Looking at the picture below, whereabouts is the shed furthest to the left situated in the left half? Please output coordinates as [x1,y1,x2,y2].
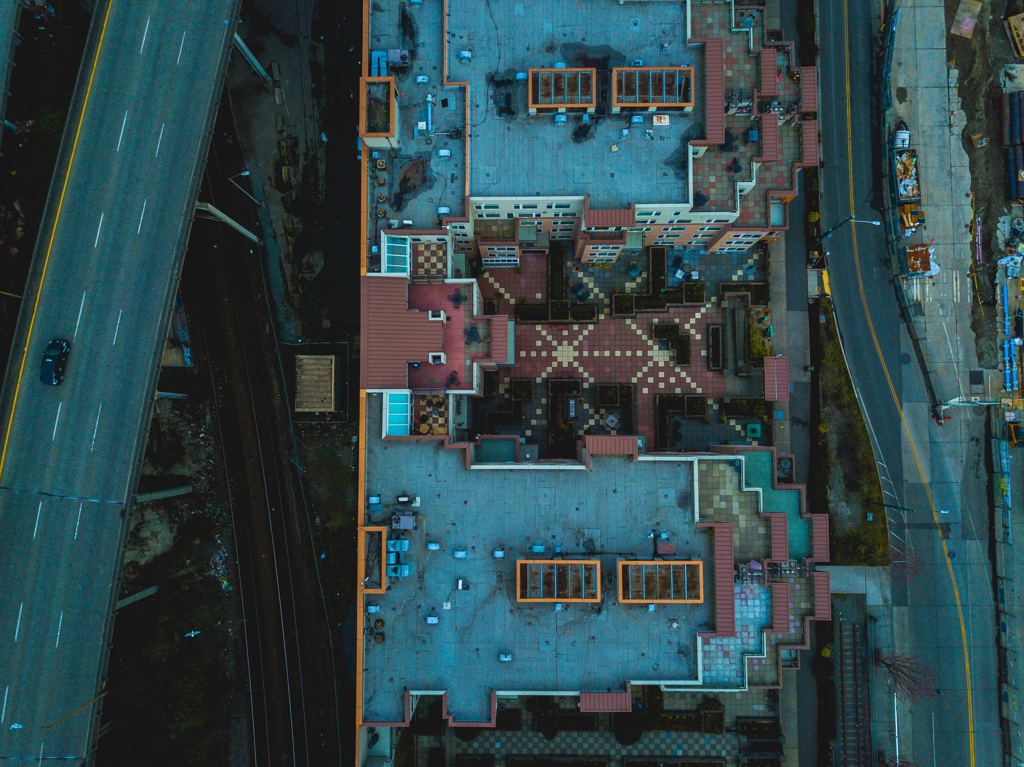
[294,355,344,412]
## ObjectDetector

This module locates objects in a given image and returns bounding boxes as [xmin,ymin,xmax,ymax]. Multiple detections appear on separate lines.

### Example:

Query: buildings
[294,355,344,412]
[359,0,817,282]
[355,388,830,767]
